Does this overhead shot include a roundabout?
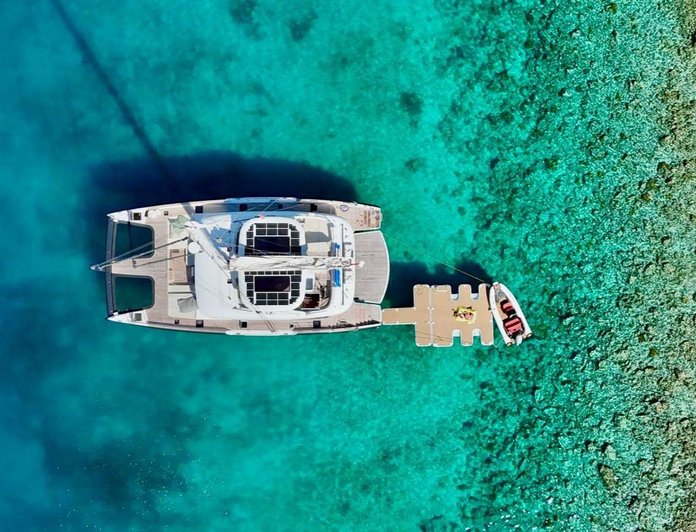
No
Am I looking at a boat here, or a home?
boat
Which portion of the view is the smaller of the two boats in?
right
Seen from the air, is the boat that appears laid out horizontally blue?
No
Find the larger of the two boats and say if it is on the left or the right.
left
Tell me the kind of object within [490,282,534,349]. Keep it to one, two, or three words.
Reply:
boat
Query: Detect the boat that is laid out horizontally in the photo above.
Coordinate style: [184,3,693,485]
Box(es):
[92,196,389,335]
